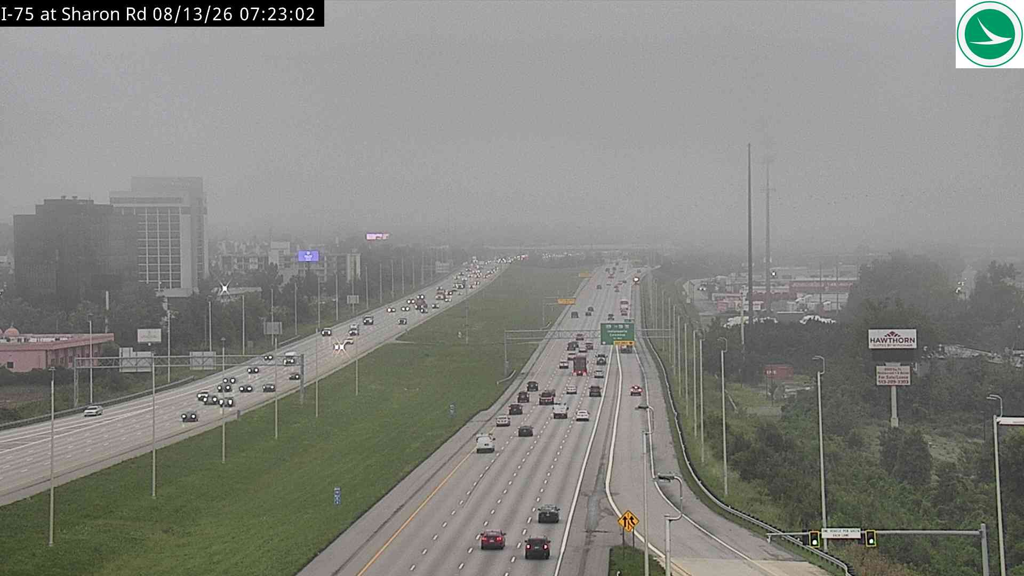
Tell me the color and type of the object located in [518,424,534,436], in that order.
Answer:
gray vehicle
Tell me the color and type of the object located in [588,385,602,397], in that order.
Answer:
gray vehicle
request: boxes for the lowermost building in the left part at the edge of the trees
[0,326,117,373]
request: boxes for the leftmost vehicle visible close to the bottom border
[481,528,508,548]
